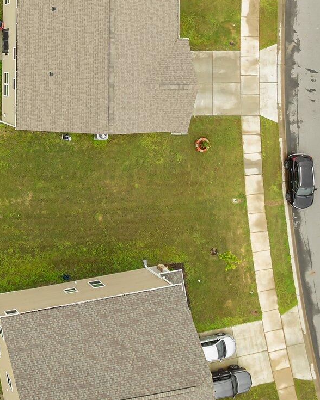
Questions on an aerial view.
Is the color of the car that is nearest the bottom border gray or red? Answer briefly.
gray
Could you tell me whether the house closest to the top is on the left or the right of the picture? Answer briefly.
left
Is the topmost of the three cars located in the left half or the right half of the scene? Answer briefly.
right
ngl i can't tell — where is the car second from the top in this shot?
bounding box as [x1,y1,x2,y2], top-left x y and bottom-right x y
[204,334,237,364]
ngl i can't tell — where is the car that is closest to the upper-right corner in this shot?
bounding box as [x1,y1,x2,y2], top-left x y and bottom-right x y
[286,154,320,209]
